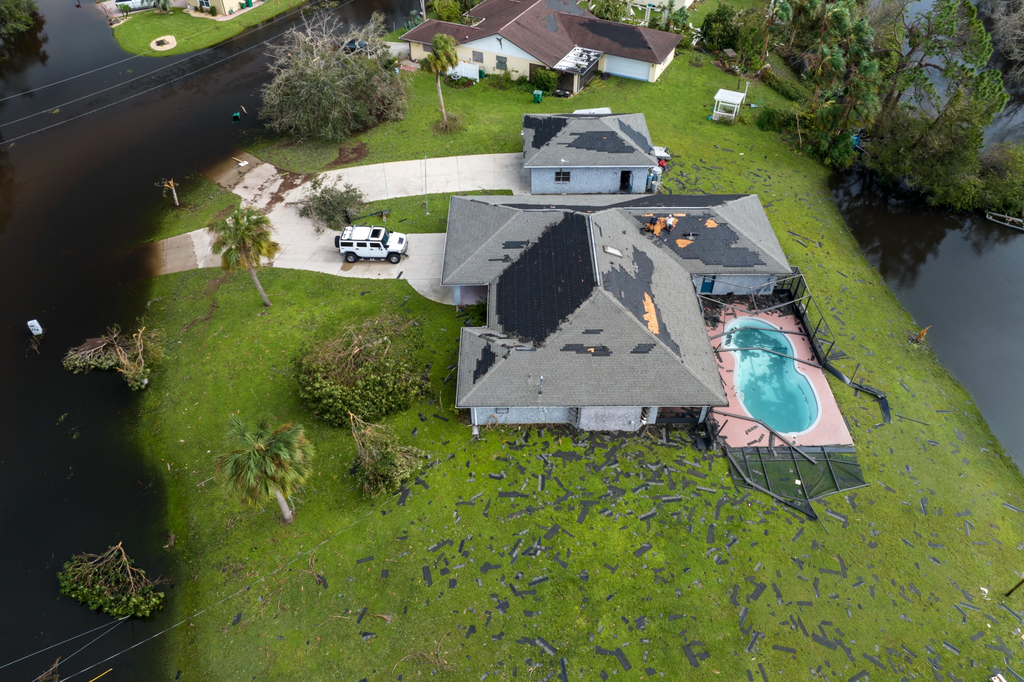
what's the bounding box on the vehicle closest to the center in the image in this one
[333,223,410,264]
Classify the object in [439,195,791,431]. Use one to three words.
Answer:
house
